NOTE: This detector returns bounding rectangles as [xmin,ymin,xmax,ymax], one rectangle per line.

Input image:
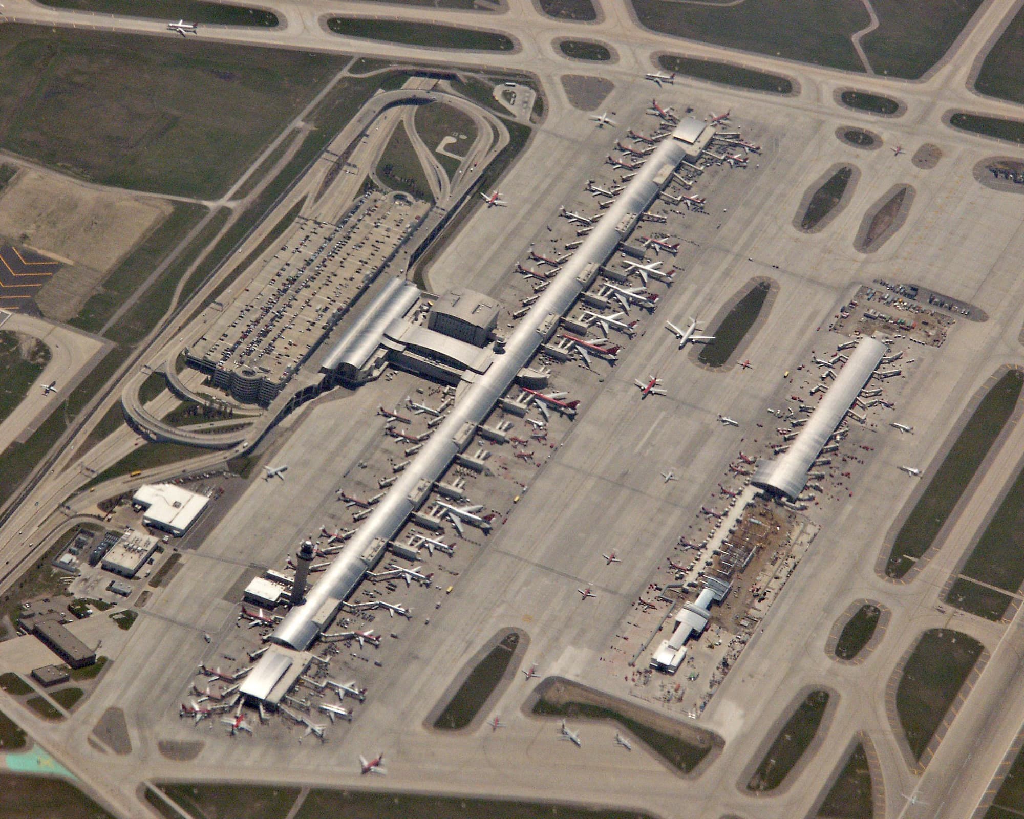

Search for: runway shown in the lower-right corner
[898,603,1024,819]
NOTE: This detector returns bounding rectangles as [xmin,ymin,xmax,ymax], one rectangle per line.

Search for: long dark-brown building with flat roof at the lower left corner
[22,605,99,660]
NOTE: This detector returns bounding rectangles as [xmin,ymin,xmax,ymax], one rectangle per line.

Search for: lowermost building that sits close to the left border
[34,660,73,682]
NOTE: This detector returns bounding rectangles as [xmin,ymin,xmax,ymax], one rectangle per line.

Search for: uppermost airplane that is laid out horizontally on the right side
[646,68,680,83]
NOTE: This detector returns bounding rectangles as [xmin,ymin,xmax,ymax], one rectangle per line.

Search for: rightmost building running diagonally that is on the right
[741,336,893,503]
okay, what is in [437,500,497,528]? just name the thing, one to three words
airplane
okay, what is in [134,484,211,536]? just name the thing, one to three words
building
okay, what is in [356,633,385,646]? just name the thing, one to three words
airplane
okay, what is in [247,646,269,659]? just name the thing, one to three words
jet bridge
